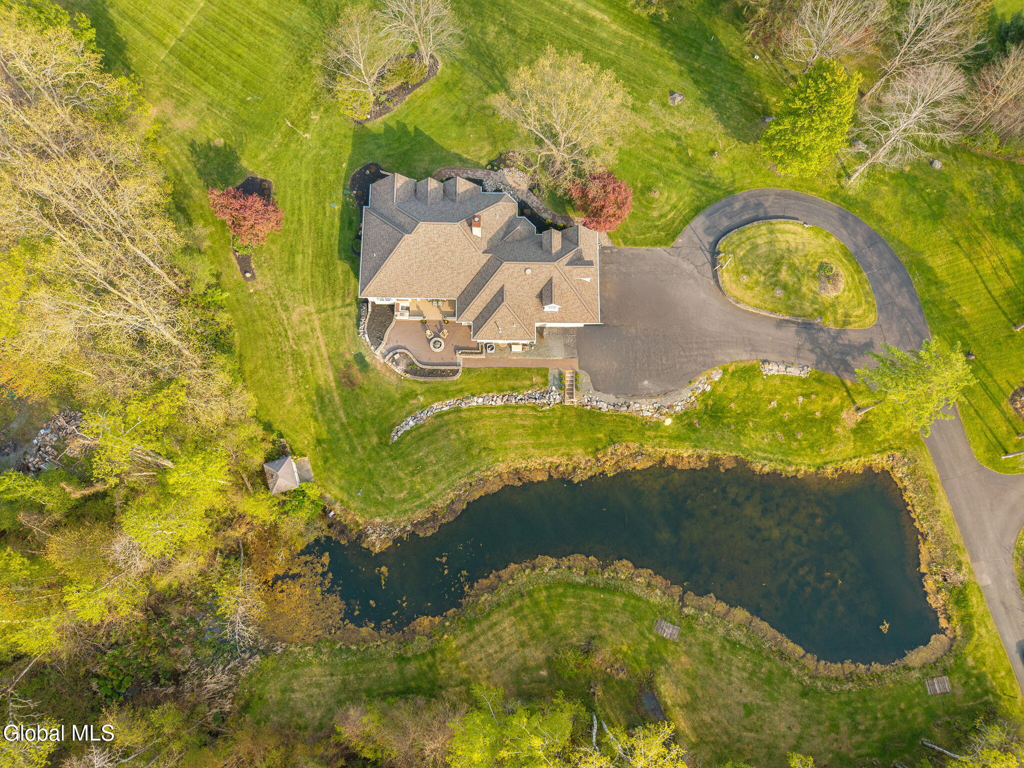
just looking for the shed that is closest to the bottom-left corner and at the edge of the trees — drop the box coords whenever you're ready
[267,456,305,496]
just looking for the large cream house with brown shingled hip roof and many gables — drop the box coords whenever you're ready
[359,173,607,346]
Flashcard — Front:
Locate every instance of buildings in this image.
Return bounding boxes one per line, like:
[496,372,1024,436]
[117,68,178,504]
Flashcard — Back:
[359,173,607,346]
[267,456,305,496]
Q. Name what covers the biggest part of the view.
grass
